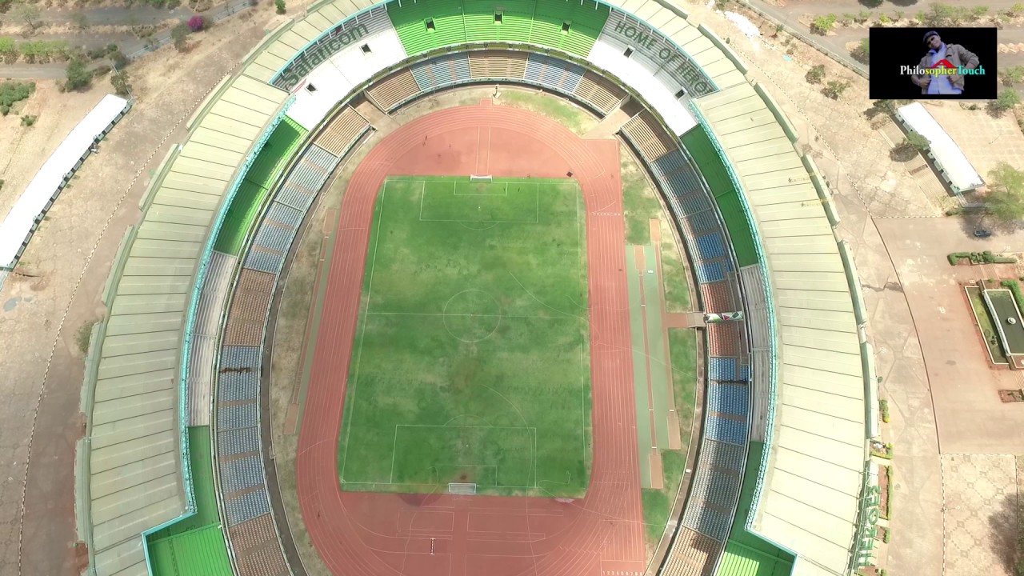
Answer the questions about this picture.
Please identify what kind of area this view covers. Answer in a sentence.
This looks like a sports ground.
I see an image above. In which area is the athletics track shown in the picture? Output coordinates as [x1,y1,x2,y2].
[294,95,647,576]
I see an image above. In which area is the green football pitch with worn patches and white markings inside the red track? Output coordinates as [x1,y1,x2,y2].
[338,175,594,499]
